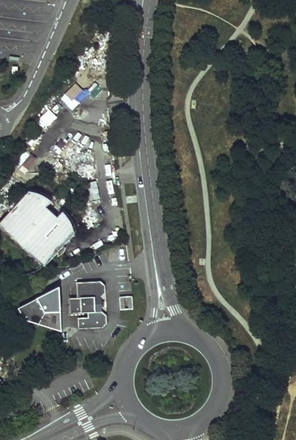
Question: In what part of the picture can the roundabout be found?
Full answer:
The roundabout sits in the bottom section of the image.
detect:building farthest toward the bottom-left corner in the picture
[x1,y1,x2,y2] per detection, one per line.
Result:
[18,288,61,332]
